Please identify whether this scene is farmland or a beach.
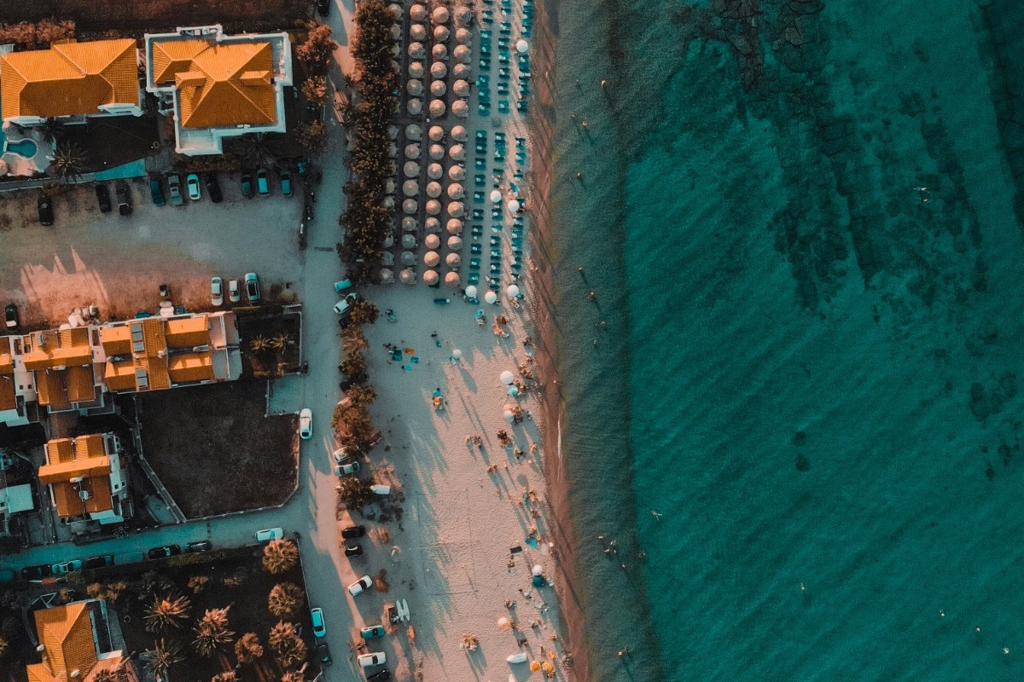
beach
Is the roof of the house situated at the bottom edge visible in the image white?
No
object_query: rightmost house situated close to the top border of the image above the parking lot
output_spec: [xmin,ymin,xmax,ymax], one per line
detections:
[144,22,300,162]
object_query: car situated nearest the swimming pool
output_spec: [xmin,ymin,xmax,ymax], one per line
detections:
[38,194,55,224]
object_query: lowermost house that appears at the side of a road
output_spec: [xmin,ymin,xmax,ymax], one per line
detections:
[26,596,133,682]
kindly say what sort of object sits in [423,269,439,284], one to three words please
umbrella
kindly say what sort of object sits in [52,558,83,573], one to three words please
car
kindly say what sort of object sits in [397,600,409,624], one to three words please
boat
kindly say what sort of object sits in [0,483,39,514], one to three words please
shed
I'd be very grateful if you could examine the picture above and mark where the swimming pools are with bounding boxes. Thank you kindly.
[3,138,38,157]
